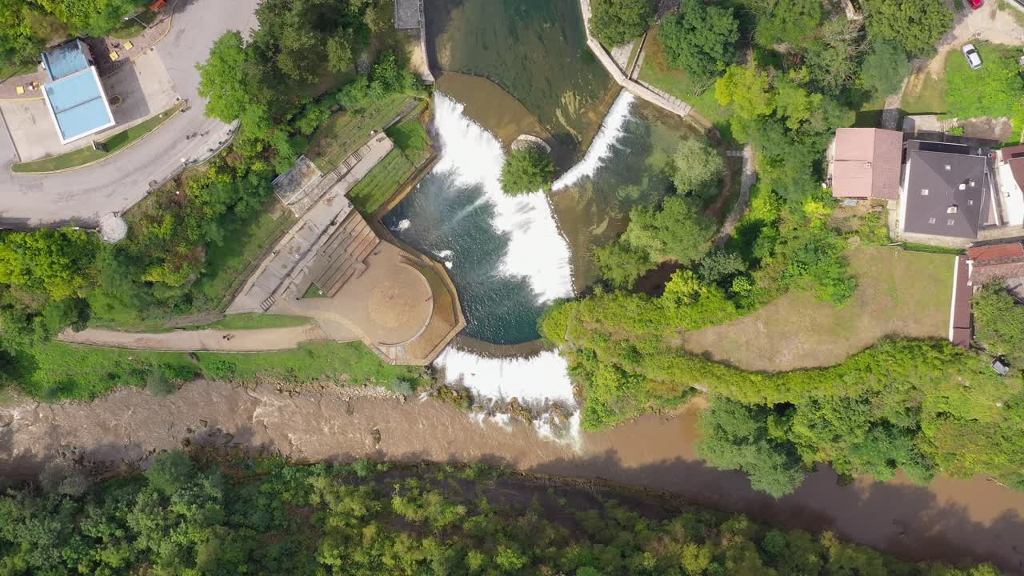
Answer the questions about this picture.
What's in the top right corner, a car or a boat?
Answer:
car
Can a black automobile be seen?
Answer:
No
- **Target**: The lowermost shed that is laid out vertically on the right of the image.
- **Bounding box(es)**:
[946,255,972,347]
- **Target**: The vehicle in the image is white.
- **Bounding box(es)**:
[957,44,984,70]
